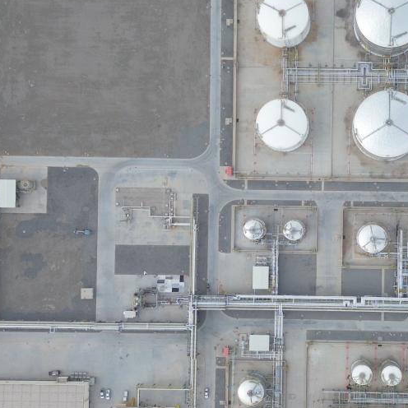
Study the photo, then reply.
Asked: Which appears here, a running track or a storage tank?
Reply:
storage tank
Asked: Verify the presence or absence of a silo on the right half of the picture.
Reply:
Yes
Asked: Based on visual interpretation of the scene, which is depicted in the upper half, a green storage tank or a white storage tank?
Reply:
white storage tank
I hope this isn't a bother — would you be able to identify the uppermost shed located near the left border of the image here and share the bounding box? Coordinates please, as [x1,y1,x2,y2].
[0,180,19,208]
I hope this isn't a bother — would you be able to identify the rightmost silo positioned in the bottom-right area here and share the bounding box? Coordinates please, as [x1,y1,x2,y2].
[379,360,403,388]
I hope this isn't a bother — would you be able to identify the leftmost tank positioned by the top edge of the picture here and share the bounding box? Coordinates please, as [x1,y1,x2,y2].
[256,0,312,51]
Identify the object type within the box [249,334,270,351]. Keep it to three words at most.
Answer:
shed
